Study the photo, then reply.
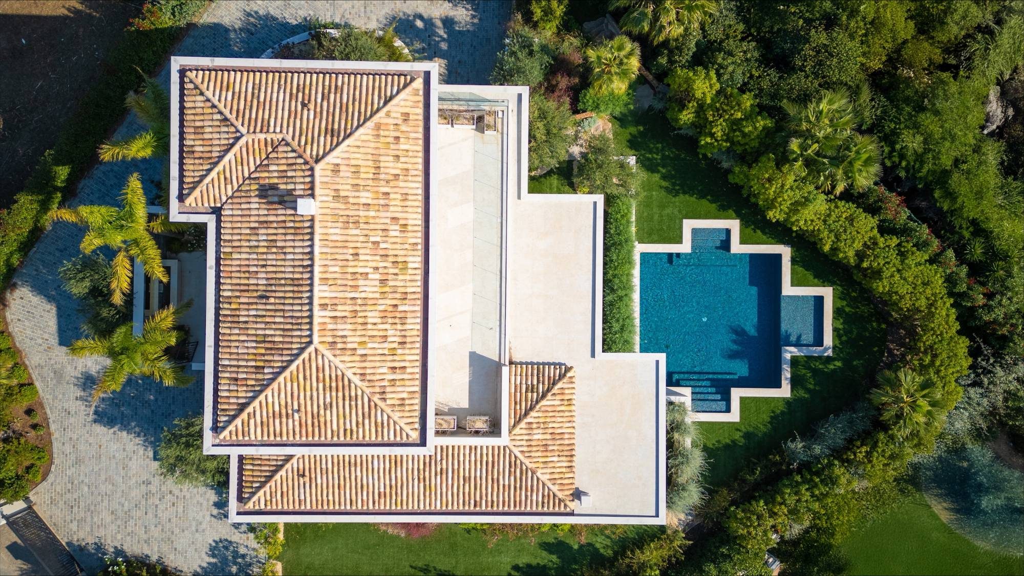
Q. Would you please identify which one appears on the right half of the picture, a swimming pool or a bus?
swimming pool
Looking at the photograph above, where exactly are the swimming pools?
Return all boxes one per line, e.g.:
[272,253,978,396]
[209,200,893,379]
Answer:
[635,219,832,422]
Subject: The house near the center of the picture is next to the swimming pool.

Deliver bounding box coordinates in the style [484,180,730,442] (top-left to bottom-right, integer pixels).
[170,57,666,525]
